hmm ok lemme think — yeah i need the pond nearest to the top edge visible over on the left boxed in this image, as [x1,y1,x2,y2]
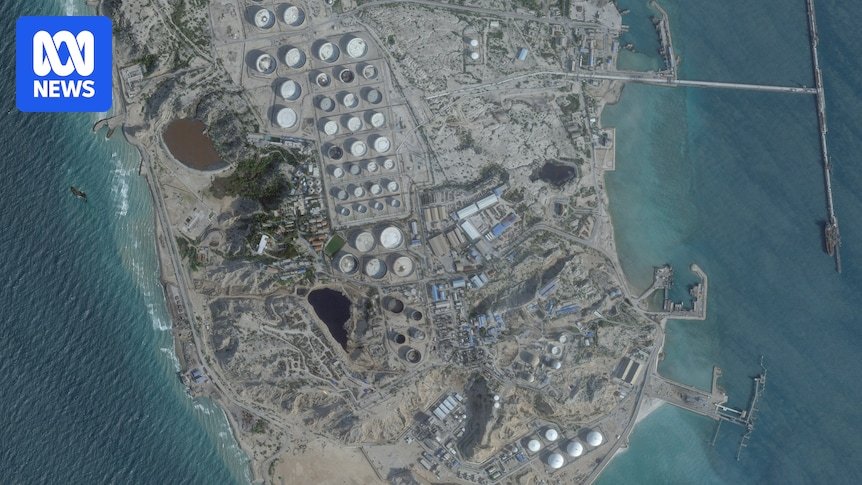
[163,118,222,171]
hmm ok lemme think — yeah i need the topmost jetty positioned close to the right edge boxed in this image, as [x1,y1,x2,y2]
[806,0,840,273]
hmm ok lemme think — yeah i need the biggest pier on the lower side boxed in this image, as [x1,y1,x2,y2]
[644,367,727,420]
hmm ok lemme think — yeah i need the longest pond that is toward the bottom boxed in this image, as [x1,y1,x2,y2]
[308,287,352,350]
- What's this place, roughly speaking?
port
